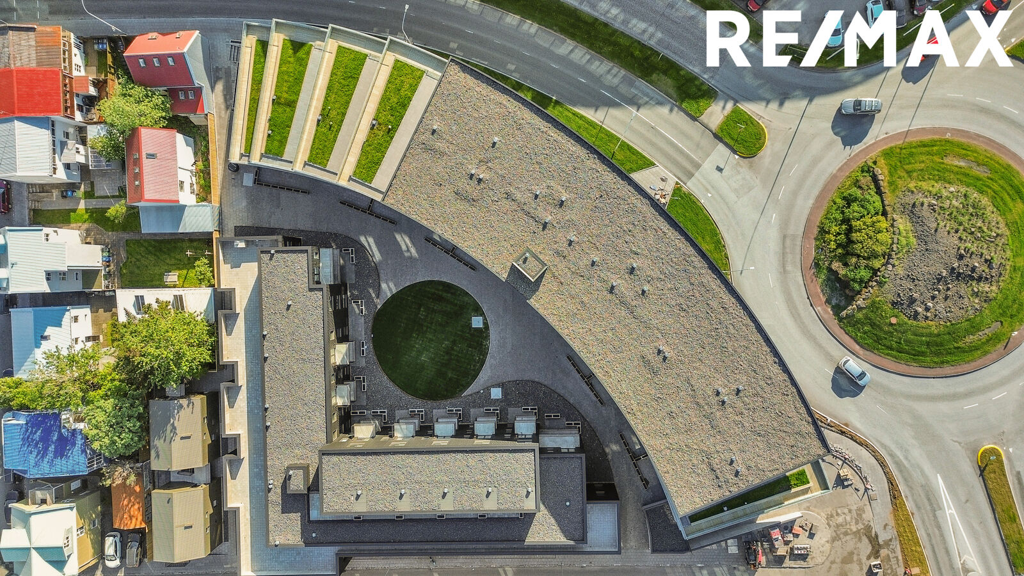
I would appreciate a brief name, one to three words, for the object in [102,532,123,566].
car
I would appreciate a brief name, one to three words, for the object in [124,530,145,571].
truck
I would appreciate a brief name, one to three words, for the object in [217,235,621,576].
building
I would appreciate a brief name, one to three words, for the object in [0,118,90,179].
house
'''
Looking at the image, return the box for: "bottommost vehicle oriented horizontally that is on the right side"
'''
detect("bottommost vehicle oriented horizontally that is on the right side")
[838,97,881,117]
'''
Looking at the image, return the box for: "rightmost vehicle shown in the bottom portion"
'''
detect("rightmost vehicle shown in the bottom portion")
[837,356,868,387]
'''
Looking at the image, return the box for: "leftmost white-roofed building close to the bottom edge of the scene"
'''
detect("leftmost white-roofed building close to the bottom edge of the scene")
[0,488,102,576]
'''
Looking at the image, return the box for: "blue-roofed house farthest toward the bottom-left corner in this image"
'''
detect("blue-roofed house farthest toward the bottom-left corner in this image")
[2,413,114,480]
